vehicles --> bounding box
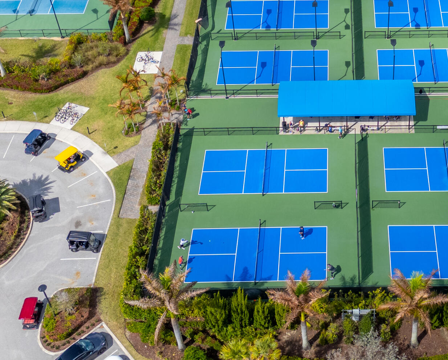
[65,231,101,253]
[29,192,48,220]
[18,299,47,332]
[97,353,123,360]
[53,331,110,360]
[21,129,51,154]
[56,148,85,174]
